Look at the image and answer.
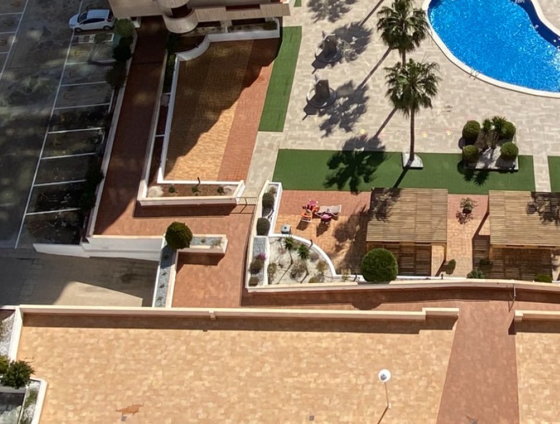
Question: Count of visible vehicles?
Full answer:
In total, there is 1 vehicle in the scene.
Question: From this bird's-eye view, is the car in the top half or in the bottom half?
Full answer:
It is in the top half that the car appears.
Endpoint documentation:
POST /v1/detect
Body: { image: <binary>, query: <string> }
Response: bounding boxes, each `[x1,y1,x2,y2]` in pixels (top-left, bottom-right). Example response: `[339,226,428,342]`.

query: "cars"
[64,10,112,35]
